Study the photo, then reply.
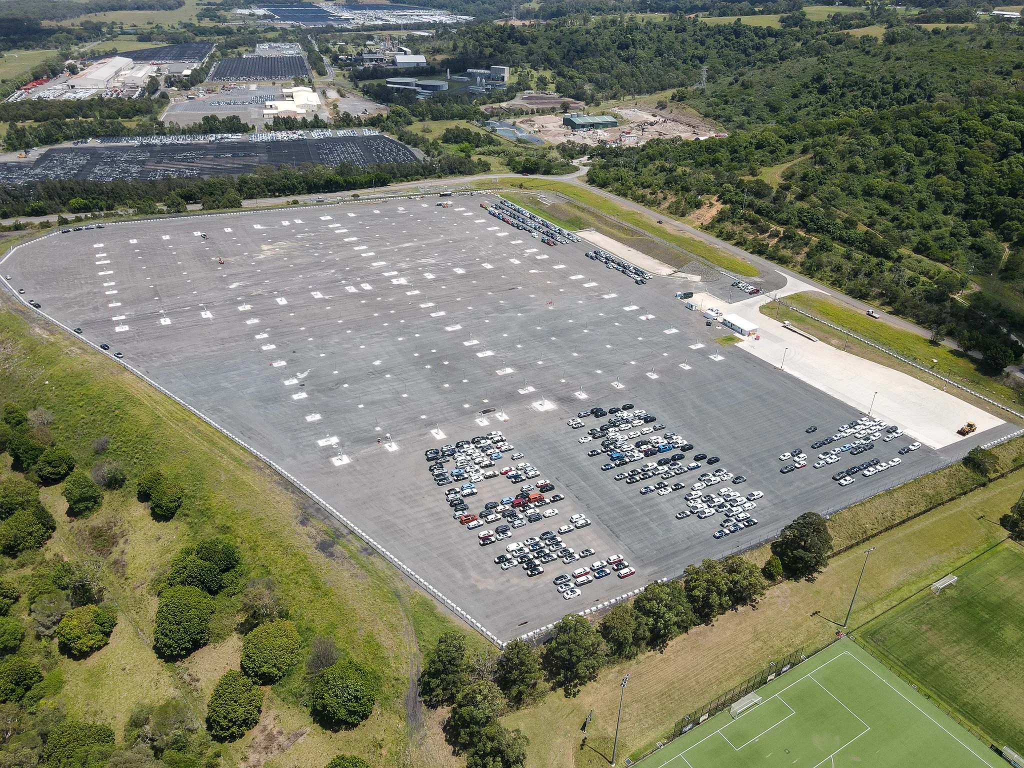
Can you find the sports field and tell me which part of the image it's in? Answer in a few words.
bottom right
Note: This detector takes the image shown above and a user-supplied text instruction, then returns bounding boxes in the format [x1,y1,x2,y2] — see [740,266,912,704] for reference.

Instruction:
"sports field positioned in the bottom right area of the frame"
[626,645,979,768]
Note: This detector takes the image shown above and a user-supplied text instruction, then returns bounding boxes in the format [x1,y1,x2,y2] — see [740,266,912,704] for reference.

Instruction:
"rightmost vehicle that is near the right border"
[958,422,977,435]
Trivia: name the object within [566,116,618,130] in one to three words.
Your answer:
shed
